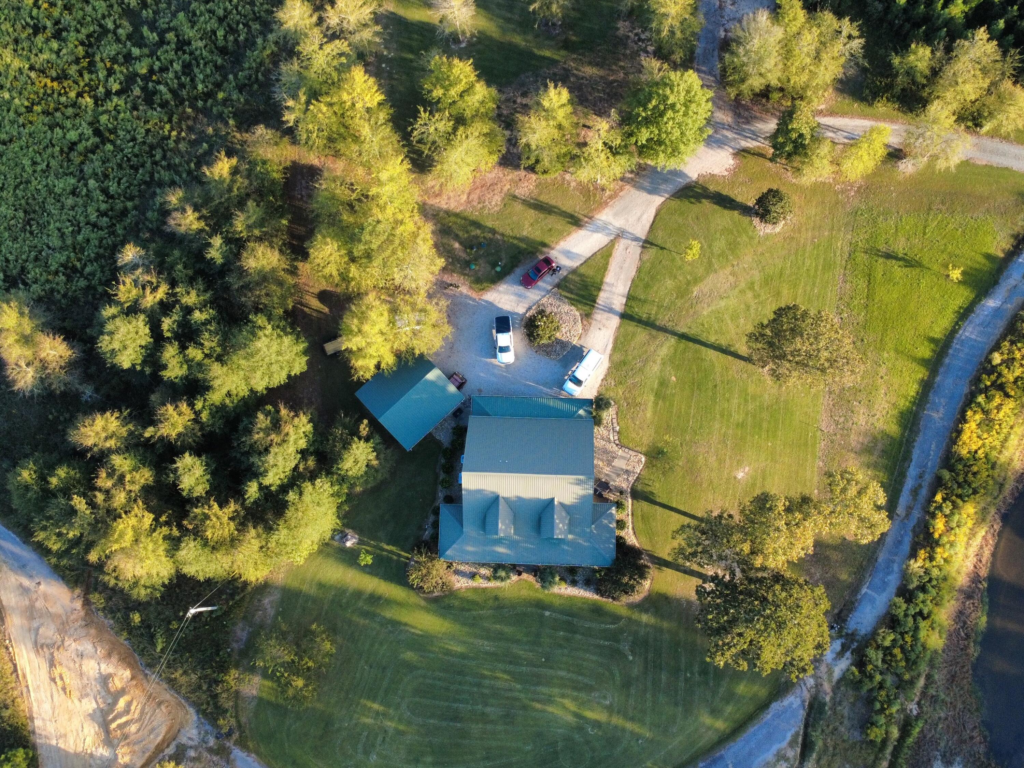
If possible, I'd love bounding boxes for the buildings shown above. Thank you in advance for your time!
[438,394,617,567]
[356,344,467,450]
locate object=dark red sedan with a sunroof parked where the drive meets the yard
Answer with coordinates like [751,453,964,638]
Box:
[521,254,556,291]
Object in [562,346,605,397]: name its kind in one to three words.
truck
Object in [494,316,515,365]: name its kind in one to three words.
truck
